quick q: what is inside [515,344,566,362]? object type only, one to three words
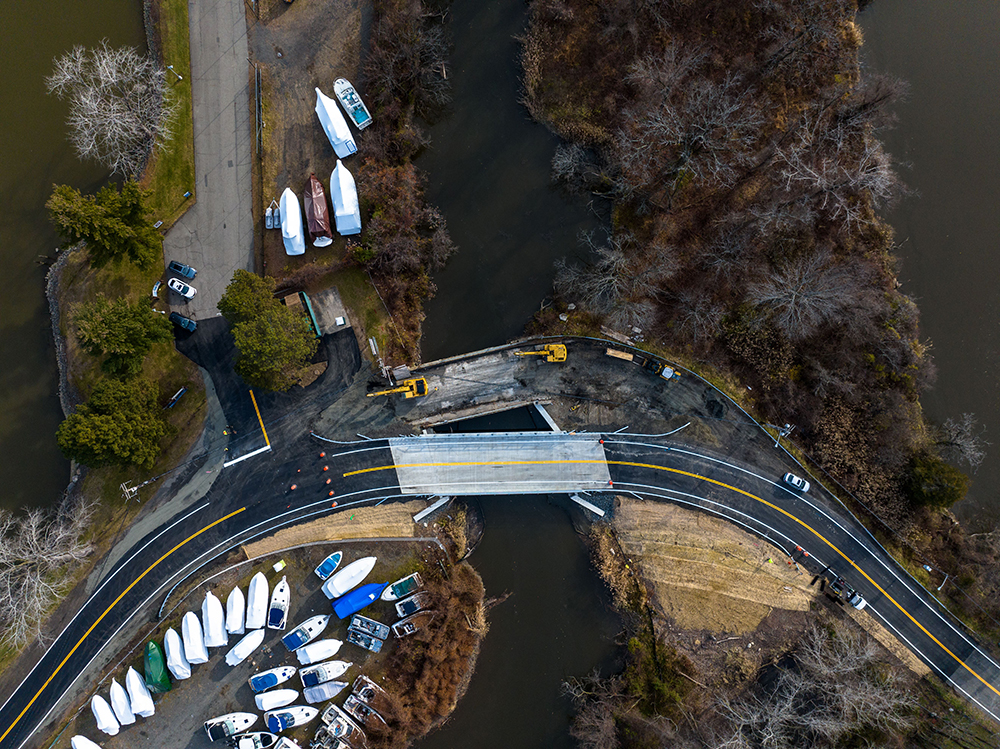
work vehicle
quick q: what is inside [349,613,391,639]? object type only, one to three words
boat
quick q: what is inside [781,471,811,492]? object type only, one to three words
car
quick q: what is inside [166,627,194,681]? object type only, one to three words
boat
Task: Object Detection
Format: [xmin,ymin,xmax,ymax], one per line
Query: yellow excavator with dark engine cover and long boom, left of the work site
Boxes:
[369,379,429,398]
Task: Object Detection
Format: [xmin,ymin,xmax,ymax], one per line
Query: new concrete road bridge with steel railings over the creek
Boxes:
[389,401,613,521]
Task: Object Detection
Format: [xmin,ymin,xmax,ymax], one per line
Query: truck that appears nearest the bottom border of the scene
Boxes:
[826,576,867,611]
